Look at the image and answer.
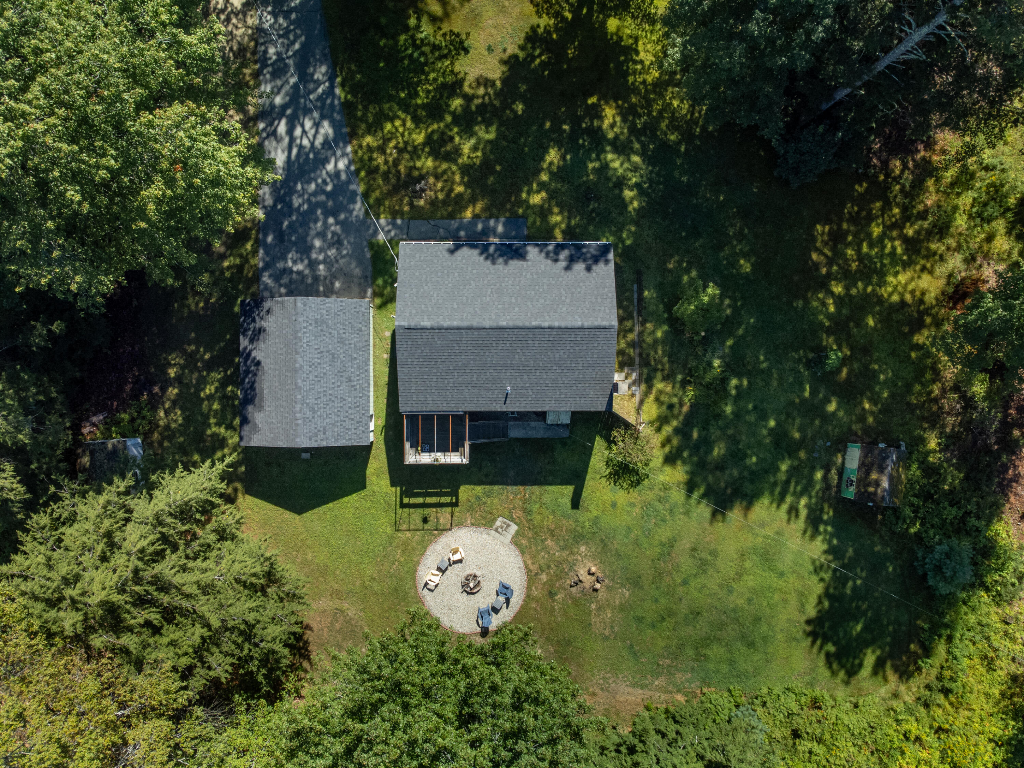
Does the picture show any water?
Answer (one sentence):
No, no water is visible.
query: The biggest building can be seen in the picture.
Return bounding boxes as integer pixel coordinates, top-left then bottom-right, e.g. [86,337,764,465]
[391,239,628,416]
